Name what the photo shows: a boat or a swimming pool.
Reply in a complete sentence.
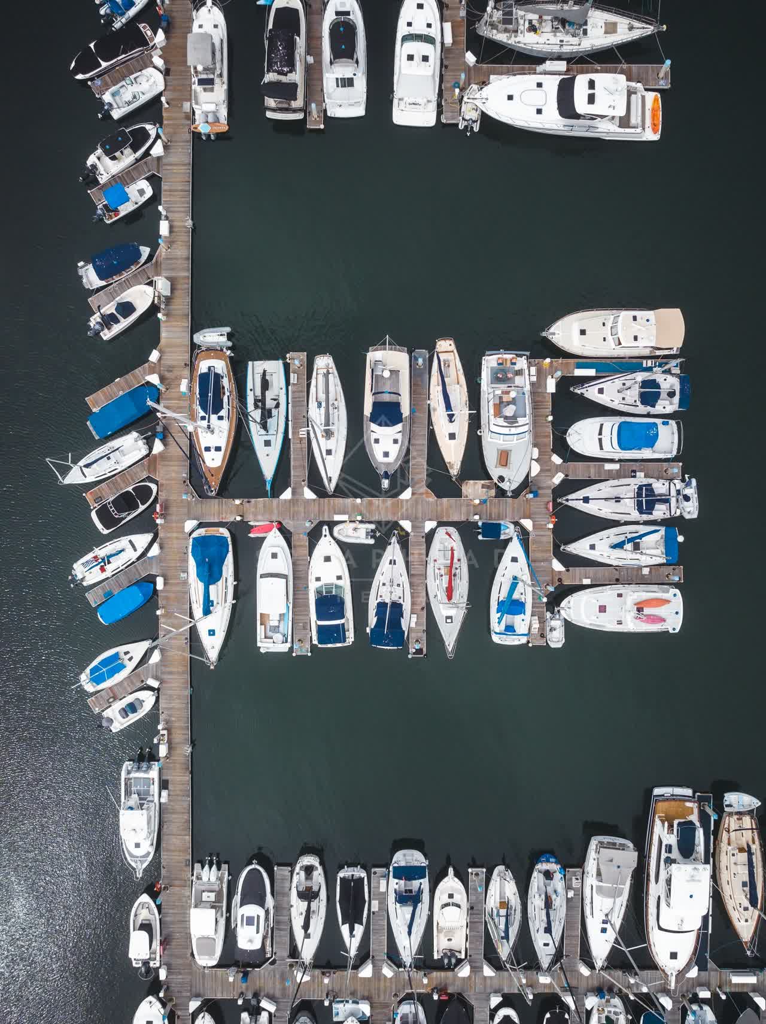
This aerial view contains a boat.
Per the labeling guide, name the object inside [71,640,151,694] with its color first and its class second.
white boat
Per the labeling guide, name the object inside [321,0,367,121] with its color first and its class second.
white boat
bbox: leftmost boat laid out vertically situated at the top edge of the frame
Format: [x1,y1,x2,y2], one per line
[188,0,228,146]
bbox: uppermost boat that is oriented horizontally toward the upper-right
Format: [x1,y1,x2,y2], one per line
[470,0,667,55]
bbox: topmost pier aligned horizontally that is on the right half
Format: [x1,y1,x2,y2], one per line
[465,55,671,90]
